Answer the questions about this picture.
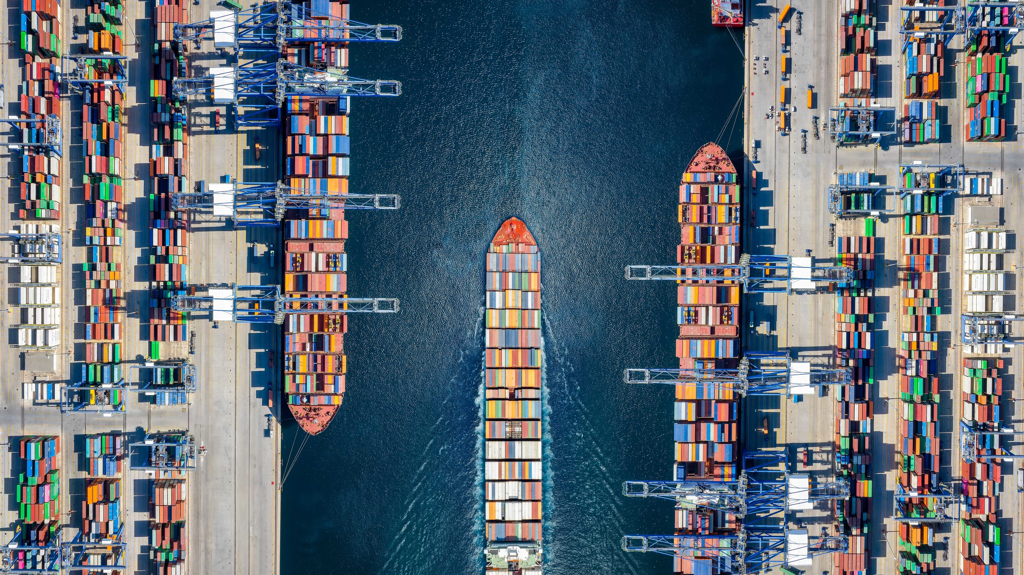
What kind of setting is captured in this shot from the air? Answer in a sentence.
What you see here is a port.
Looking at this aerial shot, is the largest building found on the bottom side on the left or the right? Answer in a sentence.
The largest building found on the bottom side sits on the left side.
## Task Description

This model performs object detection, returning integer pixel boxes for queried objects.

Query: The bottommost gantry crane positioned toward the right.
[621,508,854,565]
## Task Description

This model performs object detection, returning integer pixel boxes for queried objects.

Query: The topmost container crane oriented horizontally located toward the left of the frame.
[170,10,403,67]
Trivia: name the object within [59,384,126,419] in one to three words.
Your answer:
container crane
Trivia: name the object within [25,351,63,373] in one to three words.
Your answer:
building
